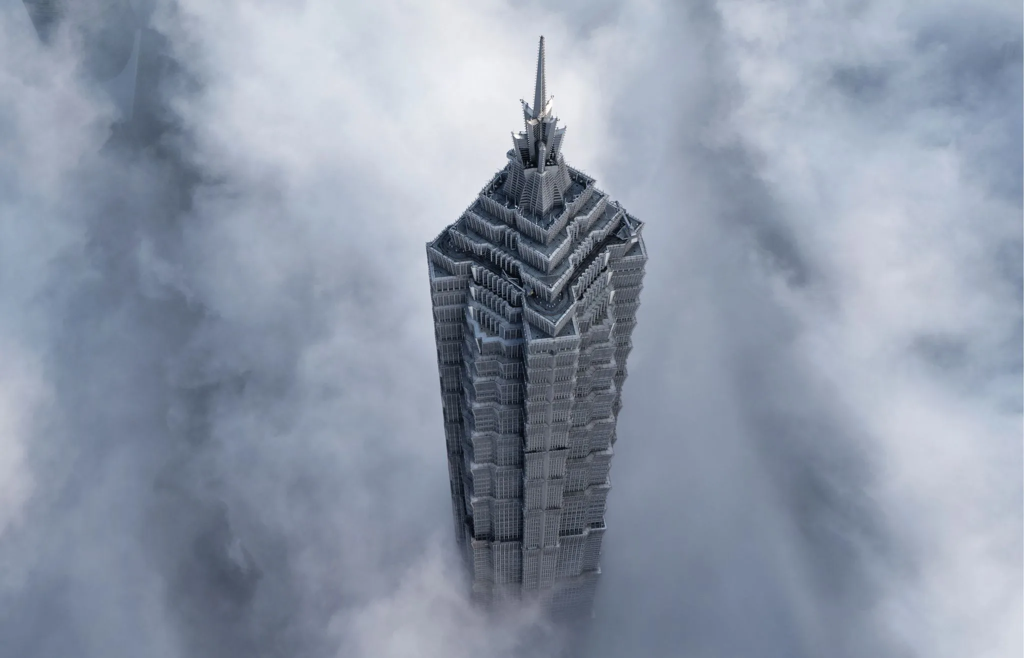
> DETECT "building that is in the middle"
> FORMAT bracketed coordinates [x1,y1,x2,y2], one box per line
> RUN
[427,33,649,658]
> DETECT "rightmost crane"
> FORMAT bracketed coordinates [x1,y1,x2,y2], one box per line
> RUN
[612,187,644,247]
